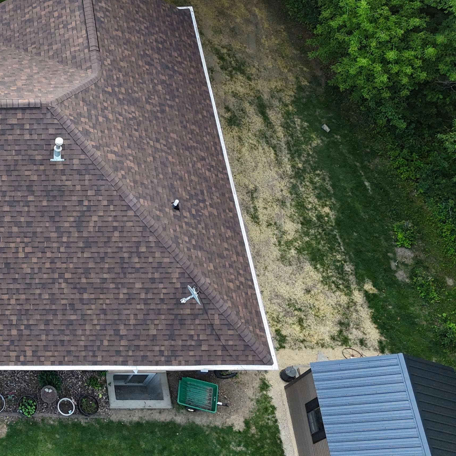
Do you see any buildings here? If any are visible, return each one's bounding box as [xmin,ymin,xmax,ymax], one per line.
[0,0,278,378]
[284,354,456,456]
